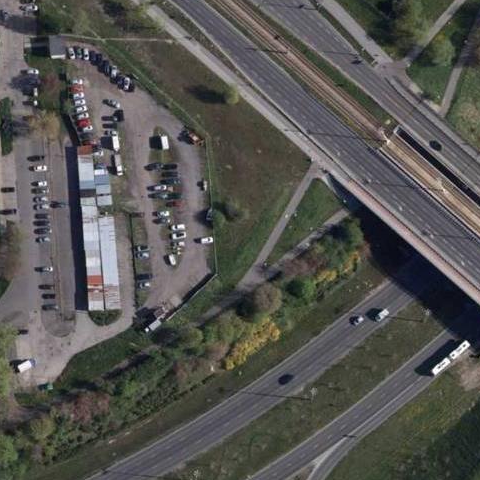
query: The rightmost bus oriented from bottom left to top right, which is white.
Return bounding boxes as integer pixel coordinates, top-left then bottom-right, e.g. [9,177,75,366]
[429,339,472,378]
